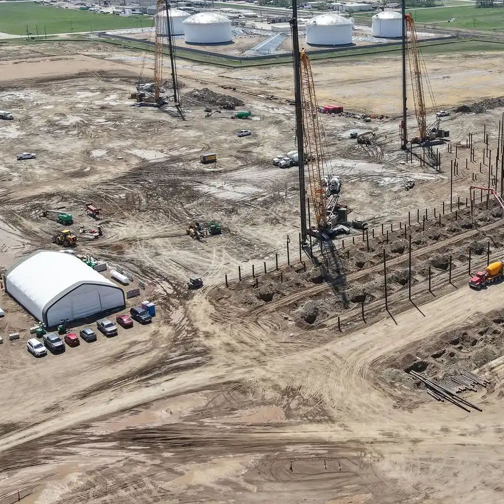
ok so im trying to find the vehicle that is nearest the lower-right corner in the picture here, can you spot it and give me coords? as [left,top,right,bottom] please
[466,256,504,288]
